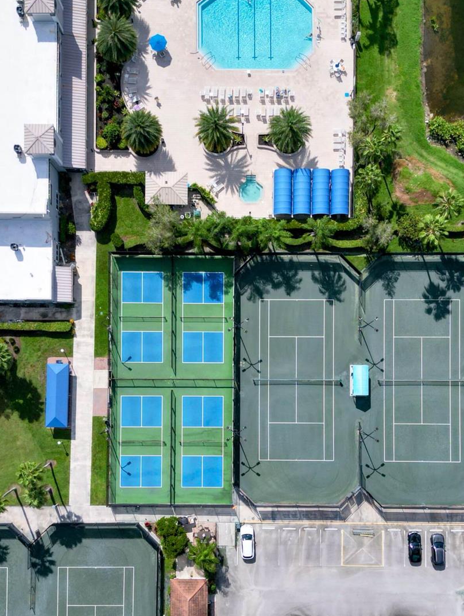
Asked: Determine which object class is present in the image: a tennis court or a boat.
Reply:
tennis court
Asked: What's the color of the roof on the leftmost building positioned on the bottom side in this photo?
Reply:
blue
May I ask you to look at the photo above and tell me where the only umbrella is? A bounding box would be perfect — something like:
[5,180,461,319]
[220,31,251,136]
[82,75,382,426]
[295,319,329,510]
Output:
[148,33,168,53]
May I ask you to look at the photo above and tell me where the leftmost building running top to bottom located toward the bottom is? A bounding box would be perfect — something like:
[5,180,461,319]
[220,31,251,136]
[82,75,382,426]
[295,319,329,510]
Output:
[45,363,72,428]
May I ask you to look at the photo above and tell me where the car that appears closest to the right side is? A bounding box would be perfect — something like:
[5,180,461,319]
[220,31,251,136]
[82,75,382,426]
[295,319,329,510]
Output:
[430,532,447,568]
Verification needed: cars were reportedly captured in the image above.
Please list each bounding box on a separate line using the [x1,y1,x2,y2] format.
[239,525,255,560]
[430,532,447,568]
[407,531,423,564]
